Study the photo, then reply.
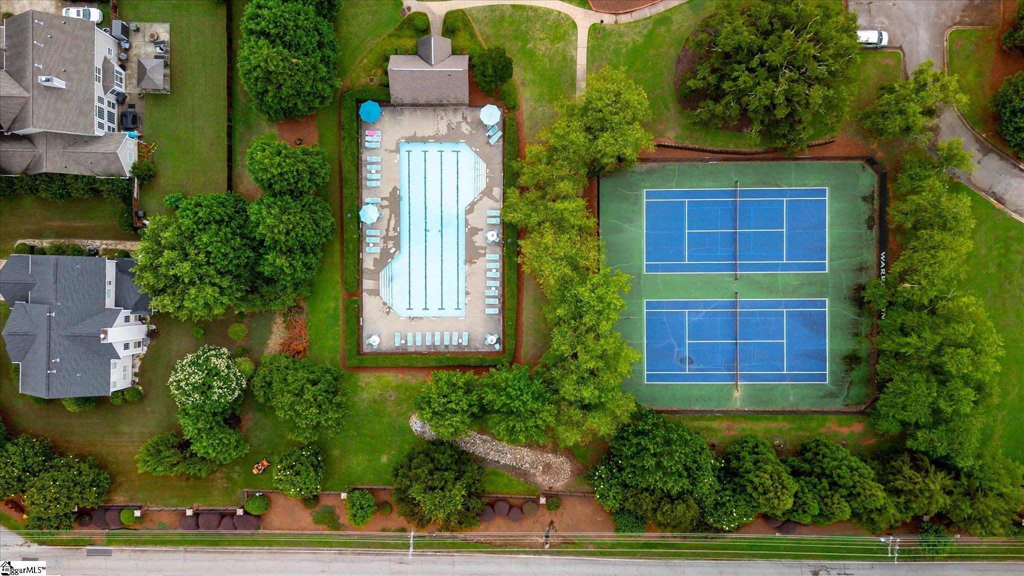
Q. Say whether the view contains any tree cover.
Yes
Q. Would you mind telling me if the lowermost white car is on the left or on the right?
right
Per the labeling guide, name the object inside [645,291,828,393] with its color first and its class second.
blue tennis court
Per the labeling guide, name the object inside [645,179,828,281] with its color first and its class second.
blue tennis court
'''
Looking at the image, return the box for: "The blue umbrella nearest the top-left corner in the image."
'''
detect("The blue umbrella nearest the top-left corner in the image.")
[359,101,382,124]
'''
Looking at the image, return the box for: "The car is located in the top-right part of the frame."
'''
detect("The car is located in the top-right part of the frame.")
[847,29,888,49]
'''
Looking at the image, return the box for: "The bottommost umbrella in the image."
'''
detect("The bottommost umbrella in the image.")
[360,205,380,224]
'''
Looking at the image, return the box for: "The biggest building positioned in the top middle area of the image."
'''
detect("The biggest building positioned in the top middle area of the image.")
[386,32,469,105]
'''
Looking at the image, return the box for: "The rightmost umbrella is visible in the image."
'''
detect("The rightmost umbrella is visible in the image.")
[479,105,501,126]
